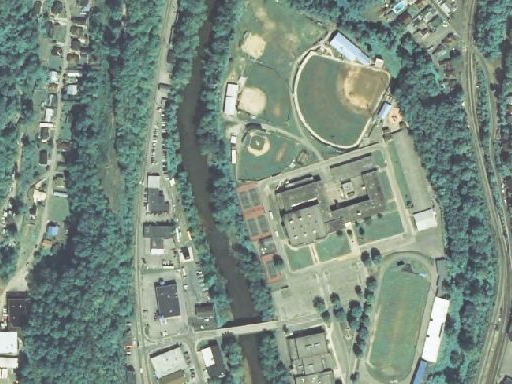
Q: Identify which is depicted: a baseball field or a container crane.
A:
baseball field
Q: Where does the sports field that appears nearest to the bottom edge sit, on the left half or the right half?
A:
right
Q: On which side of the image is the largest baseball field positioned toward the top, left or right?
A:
right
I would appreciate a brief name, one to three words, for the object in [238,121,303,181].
baseball field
